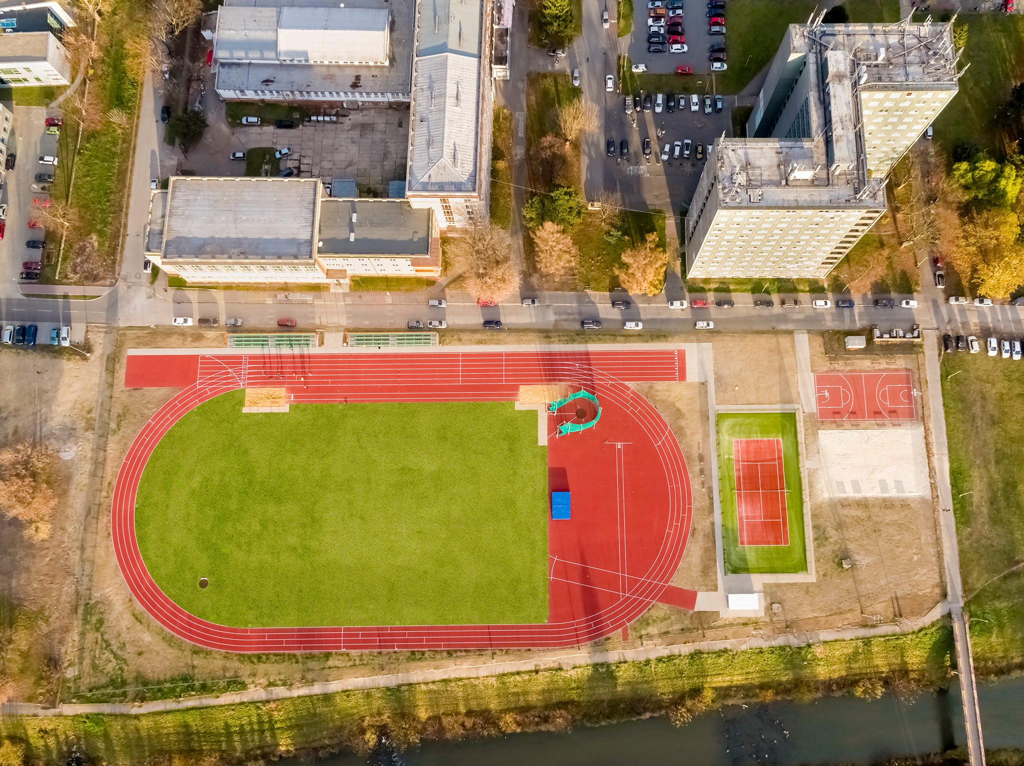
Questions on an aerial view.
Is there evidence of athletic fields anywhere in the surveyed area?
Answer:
Yes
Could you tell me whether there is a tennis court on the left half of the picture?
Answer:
No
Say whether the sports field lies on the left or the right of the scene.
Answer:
left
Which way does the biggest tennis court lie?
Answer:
up and down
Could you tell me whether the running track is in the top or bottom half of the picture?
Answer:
bottom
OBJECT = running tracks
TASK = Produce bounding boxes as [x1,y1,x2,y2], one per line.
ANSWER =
[111,349,697,652]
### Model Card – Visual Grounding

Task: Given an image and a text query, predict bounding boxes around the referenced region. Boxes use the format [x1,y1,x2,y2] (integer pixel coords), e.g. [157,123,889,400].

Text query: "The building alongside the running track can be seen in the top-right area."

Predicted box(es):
[683,23,960,282]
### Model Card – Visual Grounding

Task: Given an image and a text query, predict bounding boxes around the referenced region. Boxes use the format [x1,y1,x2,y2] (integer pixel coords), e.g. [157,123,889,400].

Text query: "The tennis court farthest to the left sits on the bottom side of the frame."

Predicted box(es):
[718,412,807,574]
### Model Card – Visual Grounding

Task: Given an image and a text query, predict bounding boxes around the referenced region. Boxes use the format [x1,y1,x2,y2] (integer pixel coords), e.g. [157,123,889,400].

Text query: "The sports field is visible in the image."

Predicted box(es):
[134,388,549,628]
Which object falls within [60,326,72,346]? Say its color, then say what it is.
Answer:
white vehicle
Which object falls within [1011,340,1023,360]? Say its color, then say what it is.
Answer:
white vehicle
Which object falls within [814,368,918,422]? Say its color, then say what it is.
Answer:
red basketball court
